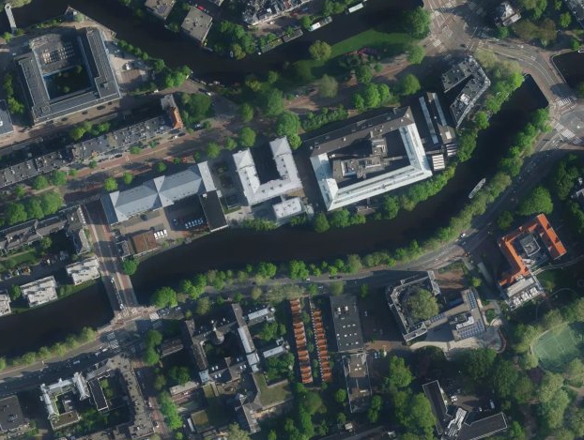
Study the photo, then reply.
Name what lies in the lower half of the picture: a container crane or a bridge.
bridge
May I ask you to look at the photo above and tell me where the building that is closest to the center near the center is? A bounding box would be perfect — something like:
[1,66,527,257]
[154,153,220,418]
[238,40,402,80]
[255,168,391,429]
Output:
[273,198,303,219]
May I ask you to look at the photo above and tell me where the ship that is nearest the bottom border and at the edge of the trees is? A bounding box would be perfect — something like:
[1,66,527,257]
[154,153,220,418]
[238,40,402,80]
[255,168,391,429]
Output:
[467,178,484,199]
